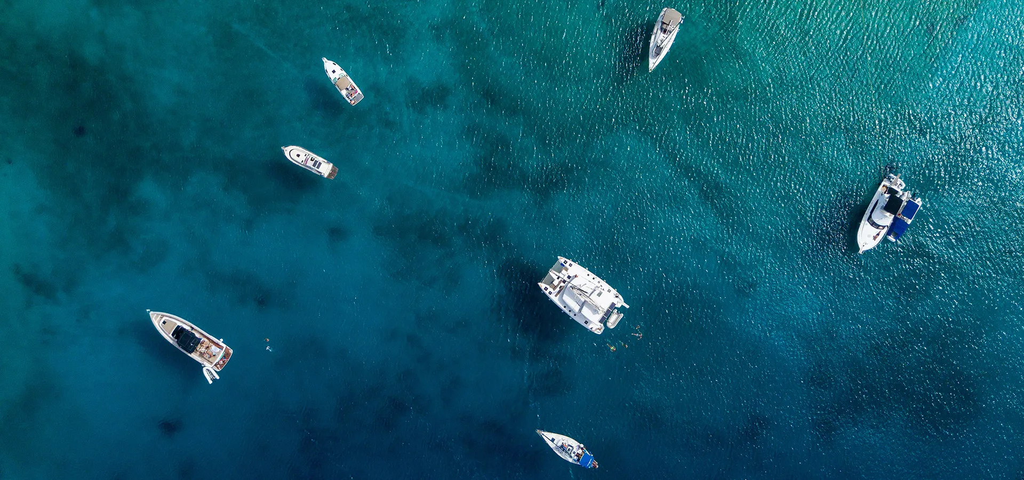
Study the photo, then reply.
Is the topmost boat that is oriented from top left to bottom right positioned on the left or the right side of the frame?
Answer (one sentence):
The topmost boat that is oriented from top left to bottom right is on the left side of the image.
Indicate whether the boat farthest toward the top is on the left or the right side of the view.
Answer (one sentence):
It is on the right.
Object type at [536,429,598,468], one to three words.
boat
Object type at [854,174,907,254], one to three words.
boat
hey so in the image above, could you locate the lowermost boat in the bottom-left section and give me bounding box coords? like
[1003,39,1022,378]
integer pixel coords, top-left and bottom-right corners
[202,366,218,383]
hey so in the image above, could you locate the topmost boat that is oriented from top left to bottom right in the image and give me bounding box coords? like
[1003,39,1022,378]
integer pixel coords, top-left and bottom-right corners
[322,58,364,106]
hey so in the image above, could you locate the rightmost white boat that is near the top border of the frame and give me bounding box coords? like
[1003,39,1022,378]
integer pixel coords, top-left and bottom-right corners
[648,2,685,72]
